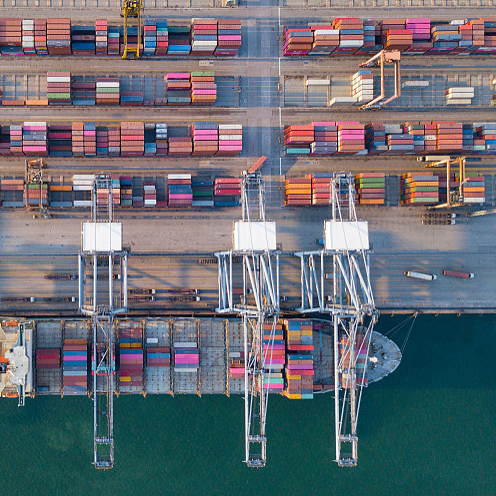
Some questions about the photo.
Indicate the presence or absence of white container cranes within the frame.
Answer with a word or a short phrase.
Yes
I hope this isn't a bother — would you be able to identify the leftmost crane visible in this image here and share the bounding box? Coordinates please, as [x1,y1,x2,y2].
[23,155,50,212]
